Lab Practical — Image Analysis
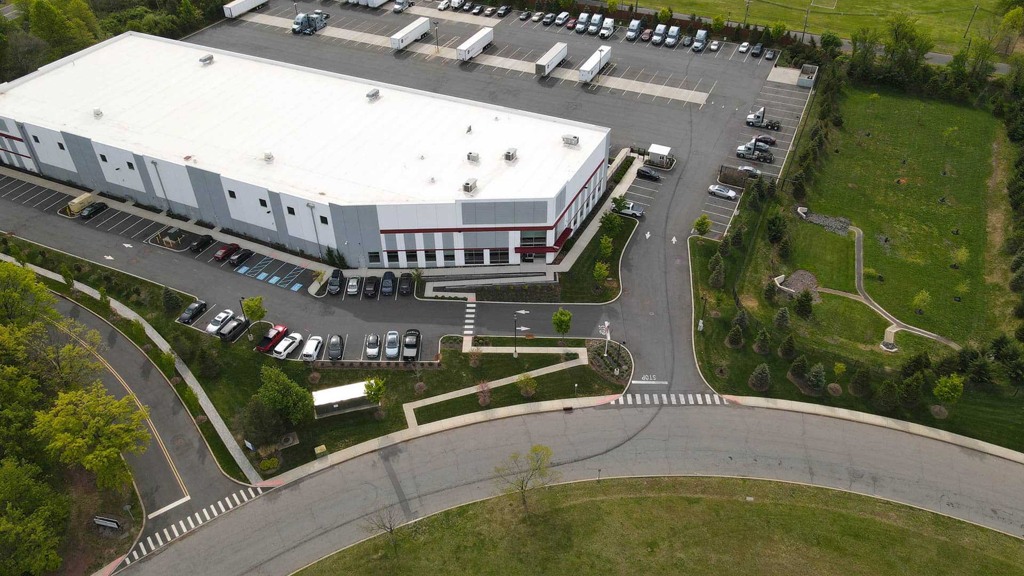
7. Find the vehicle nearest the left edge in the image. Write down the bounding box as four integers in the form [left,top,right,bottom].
[79,201,107,218]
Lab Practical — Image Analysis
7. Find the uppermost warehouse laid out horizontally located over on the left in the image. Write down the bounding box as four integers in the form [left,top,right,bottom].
[0,31,611,269]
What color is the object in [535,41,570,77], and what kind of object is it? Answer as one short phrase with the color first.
white trailer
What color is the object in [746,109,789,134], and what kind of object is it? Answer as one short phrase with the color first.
gray truck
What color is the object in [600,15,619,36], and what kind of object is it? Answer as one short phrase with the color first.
white vehicle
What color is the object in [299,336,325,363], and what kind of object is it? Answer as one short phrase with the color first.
white car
